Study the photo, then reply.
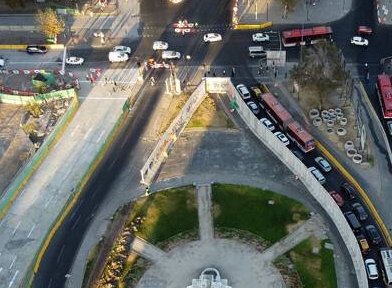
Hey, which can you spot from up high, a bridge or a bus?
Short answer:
bus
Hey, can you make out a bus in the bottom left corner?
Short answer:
No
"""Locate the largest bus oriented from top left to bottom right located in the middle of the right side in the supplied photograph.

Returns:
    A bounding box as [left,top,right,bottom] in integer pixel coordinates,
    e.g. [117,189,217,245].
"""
[254,89,317,156]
